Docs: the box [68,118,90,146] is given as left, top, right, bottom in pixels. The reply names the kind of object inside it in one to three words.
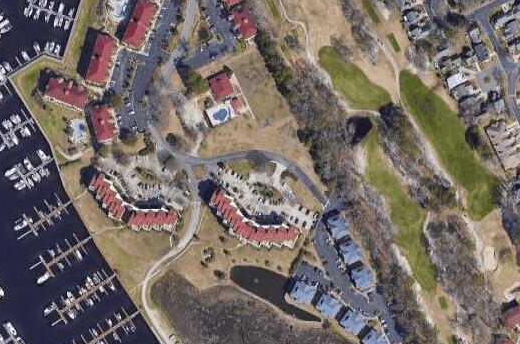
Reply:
swimming pool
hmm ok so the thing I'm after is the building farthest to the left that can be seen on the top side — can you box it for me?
[43,78,92,112]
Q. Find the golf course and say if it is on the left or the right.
right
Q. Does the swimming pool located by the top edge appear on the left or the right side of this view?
left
